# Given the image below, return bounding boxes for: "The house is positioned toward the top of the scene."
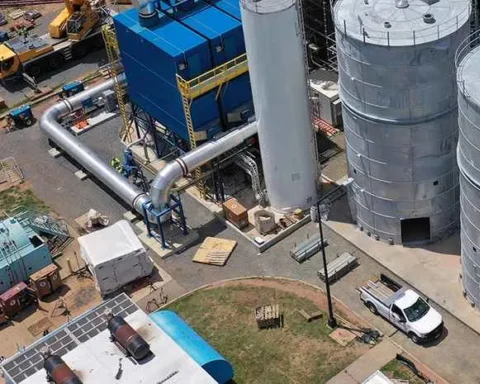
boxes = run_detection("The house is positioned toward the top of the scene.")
[96,0,258,183]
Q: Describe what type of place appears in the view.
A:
industrial area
